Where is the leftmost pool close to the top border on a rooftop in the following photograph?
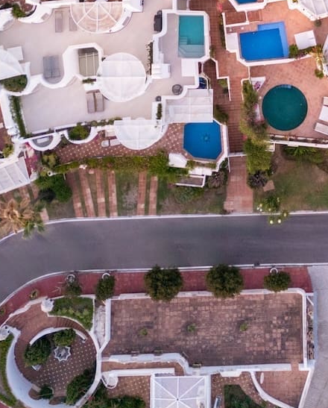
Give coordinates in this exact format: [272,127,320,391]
[177,15,207,59]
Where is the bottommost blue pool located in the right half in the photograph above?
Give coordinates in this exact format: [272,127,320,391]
[181,119,223,161]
